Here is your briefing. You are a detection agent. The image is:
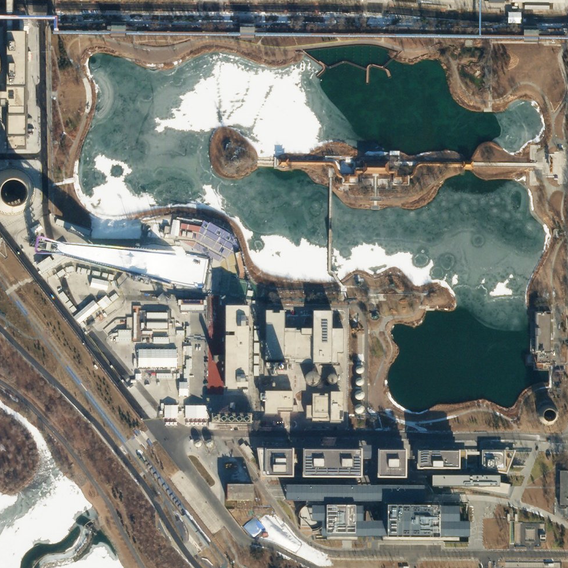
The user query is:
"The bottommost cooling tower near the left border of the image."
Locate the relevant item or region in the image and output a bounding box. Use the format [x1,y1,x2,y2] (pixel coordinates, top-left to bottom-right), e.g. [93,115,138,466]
[0,166,36,215]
